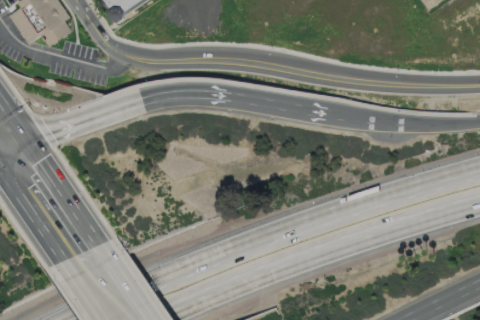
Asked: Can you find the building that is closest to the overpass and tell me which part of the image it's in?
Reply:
top left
